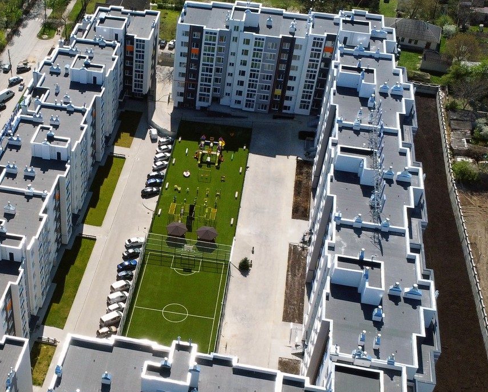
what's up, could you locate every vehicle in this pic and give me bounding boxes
[95,323,116,337]
[157,137,173,145]
[0,86,16,101]
[114,269,134,279]
[150,128,157,140]
[155,144,171,153]
[108,277,130,292]
[107,289,128,303]
[15,65,32,74]
[0,101,8,109]
[151,160,169,170]
[122,249,140,260]
[106,299,125,309]
[123,237,143,249]
[152,151,171,162]
[116,258,137,270]
[96,306,125,325]
[144,177,165,186]
[147,170,166,179]
[8,76,23,86]
[3,66,11,73]
[140,185,161,197]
